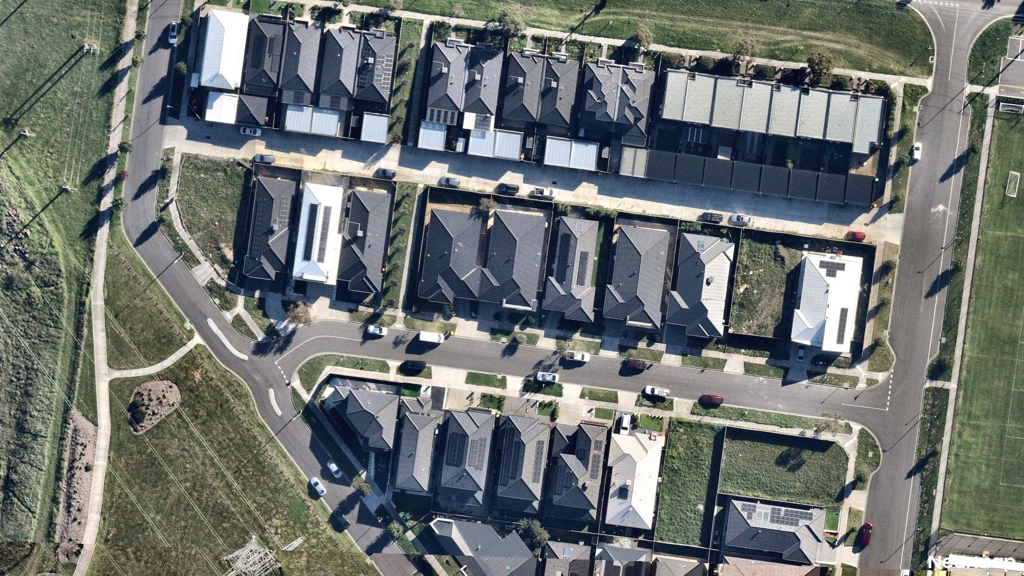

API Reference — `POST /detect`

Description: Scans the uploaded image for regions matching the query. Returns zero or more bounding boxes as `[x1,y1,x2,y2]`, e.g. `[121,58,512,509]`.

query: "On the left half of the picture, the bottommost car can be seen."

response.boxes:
[333,508,350,528]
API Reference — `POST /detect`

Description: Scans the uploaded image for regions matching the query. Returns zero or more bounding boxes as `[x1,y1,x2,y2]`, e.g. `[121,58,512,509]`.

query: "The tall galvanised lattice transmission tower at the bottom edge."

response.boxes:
[221,532,287,576]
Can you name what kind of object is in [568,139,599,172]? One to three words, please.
building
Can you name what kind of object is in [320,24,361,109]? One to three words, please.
house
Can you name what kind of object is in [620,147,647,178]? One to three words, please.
building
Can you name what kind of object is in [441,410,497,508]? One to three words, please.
house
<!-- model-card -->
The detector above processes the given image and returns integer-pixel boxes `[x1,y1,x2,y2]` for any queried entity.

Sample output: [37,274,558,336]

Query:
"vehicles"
[498,183,519,194]
[847,231,866,240]
[645,387,670,397]
[626,360,647,369]
[241,126,259,136]
[326,459,343,478]
[863,522,873,546]
[912,142,922,161]
[533,186,556,197]
[333,508,350,528]
[403,361,426,371]
[254,154,274,164]
[367,326,387,336]
[309,476,326,497]
[168,21,178,43]
[702,212,723,222]
[376,168,396,178]
[566,351,589,361]
[701,394,723,404]
[619,413,630,434]
[537,373,559,382]
[731,214,750,224]
[419,332,444,342]
[441,177,460,186]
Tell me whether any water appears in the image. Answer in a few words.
No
